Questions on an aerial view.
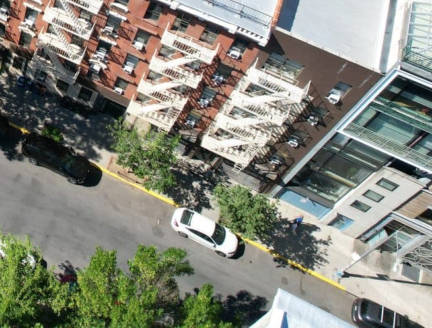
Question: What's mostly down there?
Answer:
buildings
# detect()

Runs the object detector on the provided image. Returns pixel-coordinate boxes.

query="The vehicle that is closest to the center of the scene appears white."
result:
[167,205,245,263]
